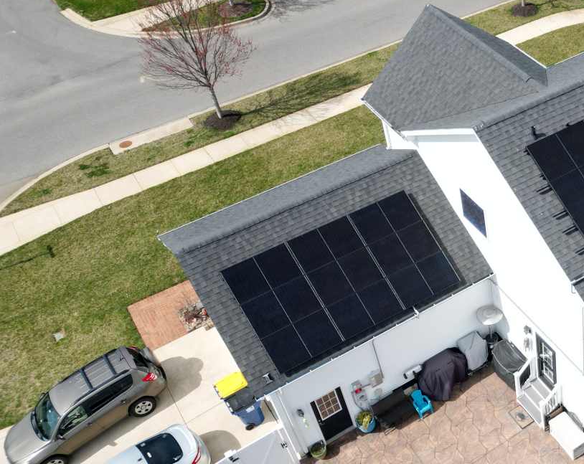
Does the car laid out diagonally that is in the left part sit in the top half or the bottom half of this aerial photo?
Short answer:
bottom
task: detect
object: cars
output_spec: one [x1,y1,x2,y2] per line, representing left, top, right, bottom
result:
[0,341,173,464]
[82,421,211,464]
